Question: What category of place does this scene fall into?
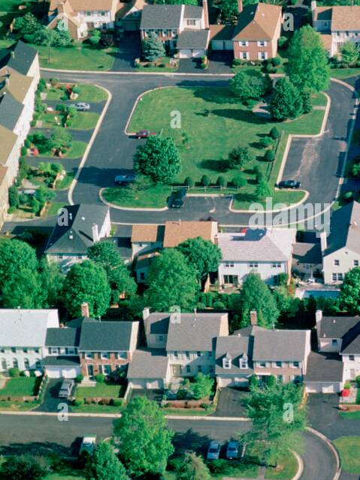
residential area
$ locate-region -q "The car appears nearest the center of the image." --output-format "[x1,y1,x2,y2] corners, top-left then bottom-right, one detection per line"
[170,190,185,206]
